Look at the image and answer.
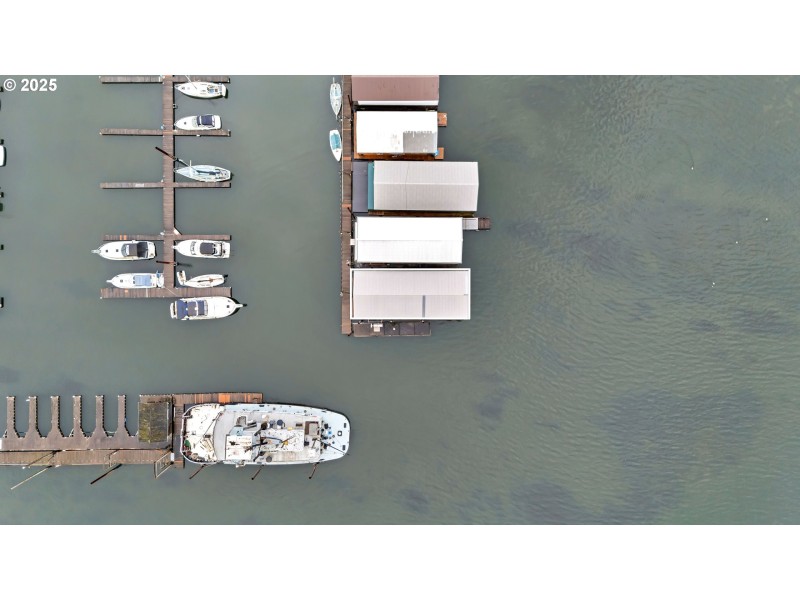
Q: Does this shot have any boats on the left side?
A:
Yes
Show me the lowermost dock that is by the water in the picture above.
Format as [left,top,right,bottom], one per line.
[0,448,173,468]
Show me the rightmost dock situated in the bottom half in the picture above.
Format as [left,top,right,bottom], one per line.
[138,394,264,466]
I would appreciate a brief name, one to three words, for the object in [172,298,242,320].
boat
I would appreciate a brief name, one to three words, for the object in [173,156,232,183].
boat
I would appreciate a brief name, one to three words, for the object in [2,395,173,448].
pier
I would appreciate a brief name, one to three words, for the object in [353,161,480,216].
house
